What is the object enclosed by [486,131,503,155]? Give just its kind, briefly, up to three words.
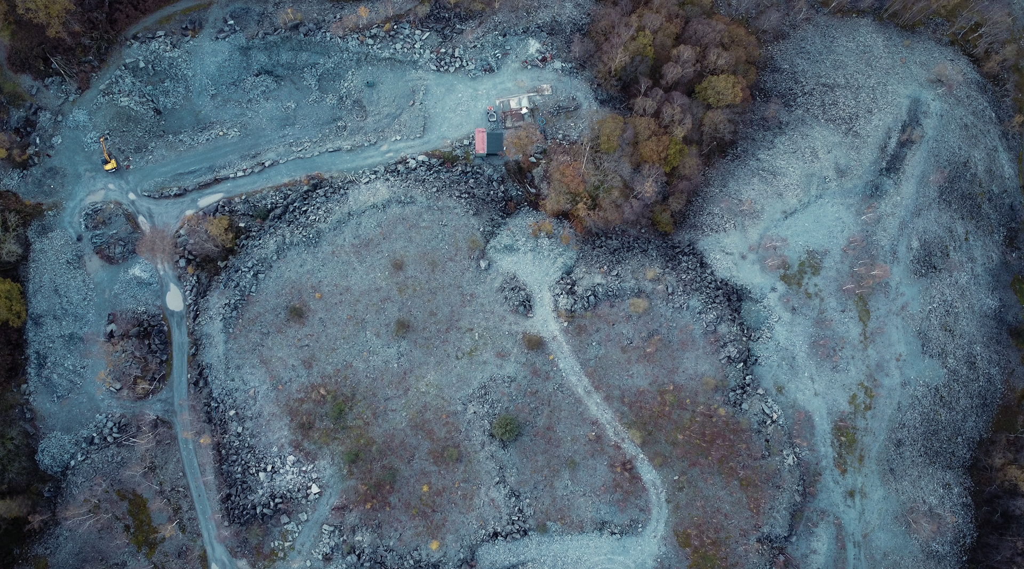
shed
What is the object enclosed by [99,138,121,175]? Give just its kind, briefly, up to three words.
work vehicle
